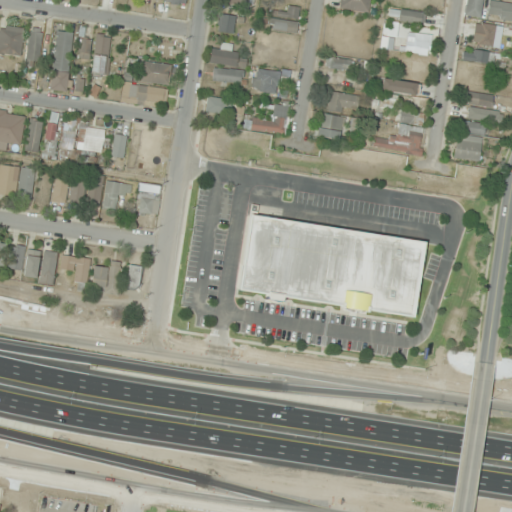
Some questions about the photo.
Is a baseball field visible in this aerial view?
No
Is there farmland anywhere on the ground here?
No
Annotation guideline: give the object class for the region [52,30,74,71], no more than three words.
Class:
house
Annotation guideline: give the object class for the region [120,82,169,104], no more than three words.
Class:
house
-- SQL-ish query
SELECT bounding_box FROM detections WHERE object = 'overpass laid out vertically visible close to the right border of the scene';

[454,362,498,512]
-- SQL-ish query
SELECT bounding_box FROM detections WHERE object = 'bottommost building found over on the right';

[242,214,429,318]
